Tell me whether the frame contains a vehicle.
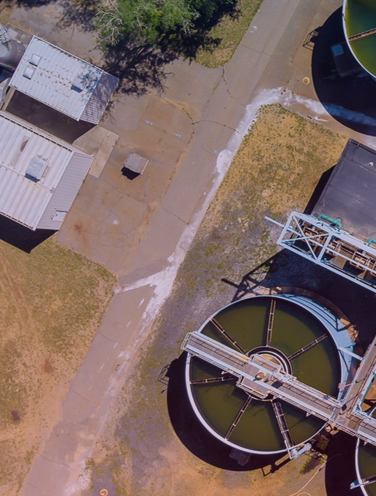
No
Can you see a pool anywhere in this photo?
No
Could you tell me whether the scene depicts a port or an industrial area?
industrial area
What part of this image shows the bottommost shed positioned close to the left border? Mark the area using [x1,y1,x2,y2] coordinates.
[0,108,93,231]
